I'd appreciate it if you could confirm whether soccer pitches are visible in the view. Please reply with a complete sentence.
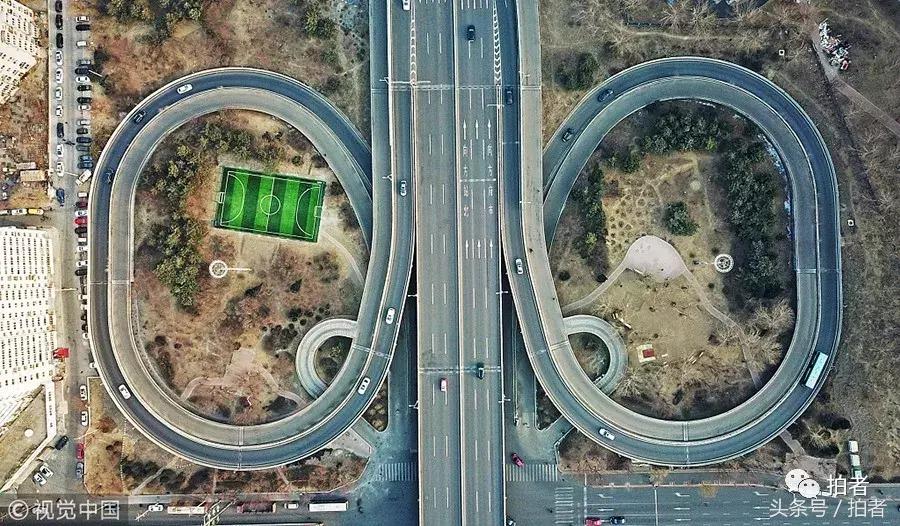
Yes, a soccer pitch is visible in the scene.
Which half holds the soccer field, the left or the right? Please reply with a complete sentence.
The soccer field appears in the left half of the scene.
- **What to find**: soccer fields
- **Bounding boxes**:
[214,166,326,242]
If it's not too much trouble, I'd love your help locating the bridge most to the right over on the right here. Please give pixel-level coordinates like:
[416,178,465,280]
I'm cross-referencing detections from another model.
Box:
[516,0,819,443]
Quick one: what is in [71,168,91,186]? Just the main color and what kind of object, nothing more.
white vehicle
